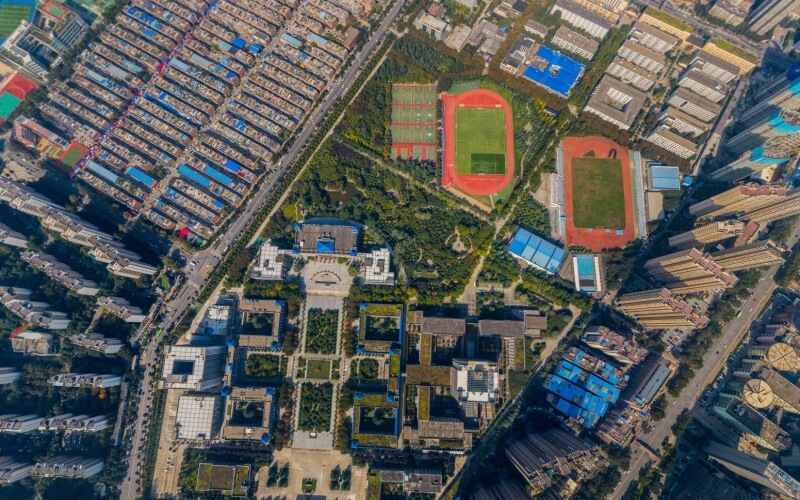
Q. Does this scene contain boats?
No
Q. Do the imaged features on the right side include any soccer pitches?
Yes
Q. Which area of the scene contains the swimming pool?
right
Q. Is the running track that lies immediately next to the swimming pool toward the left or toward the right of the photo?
right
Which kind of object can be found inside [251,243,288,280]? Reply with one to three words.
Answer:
building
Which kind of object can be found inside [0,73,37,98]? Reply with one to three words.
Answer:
sports court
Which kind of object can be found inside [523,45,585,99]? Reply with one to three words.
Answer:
building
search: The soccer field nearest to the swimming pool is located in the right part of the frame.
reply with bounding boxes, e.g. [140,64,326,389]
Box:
[572,157,626,229]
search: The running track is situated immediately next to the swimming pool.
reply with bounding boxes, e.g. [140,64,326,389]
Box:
[563,135,634,252]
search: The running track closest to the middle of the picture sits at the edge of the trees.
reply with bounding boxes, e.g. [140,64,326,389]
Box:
[442,89,514,195]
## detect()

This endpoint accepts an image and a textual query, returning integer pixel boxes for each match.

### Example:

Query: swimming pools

[573,256,604,292]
